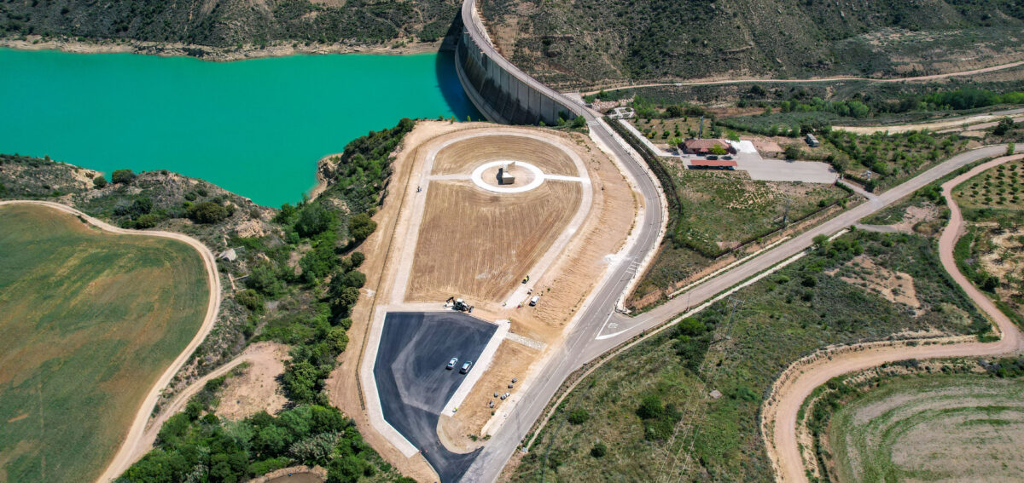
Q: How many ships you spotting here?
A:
0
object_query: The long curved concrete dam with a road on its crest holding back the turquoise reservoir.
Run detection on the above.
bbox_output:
[457,0,597,127]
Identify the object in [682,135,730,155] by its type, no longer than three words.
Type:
house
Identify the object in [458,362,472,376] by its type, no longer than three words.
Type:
car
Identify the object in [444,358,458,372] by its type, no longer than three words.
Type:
car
